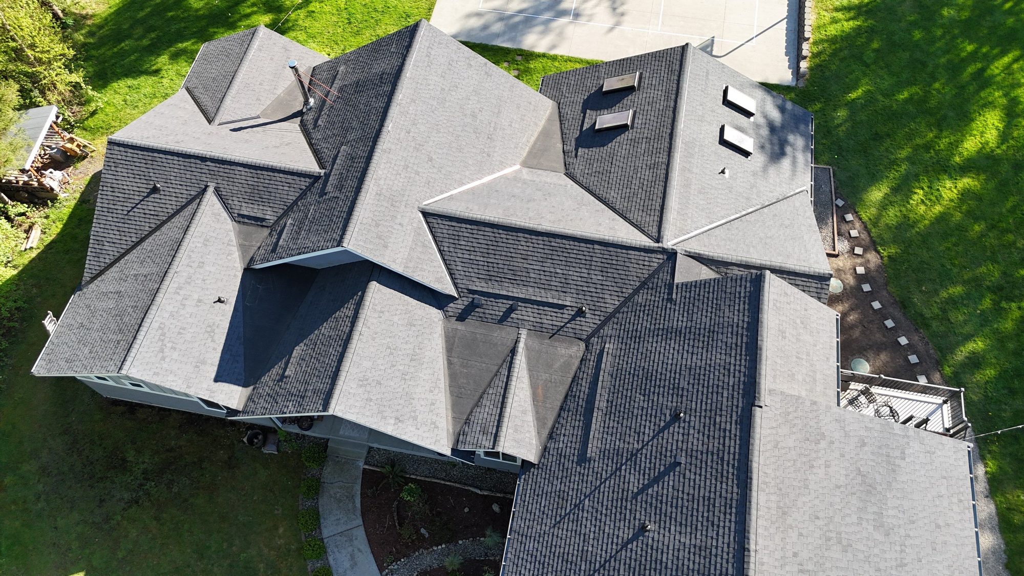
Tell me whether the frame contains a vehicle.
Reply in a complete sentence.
No, there isn't any vehicle down there.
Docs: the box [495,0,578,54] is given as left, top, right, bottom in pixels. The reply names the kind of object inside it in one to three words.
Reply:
sports court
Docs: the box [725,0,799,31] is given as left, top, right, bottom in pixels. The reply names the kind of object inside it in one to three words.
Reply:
sports court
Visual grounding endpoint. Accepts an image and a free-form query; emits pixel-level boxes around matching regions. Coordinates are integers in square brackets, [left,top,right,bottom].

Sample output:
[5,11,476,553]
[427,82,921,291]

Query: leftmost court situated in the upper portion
[429,0,507,44]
